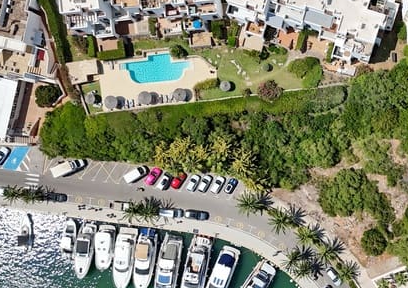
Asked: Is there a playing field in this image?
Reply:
No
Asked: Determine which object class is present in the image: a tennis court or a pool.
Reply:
pool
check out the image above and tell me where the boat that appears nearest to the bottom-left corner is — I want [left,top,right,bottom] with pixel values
[18,215,34,249]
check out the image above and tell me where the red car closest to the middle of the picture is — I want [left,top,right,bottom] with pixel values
[171,169,187,191]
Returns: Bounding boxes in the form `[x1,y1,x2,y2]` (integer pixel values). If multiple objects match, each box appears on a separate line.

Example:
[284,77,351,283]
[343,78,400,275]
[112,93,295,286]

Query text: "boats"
[61,220,78,258]
[74,224,99,278]
[207,244,242,288]
[134,231,157,288]
[181,232,212,288]
[96,226,117,271]
[18,215,34,249]
[242,259,279,288]
[156,233,186,288]
[114,225,139,288]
